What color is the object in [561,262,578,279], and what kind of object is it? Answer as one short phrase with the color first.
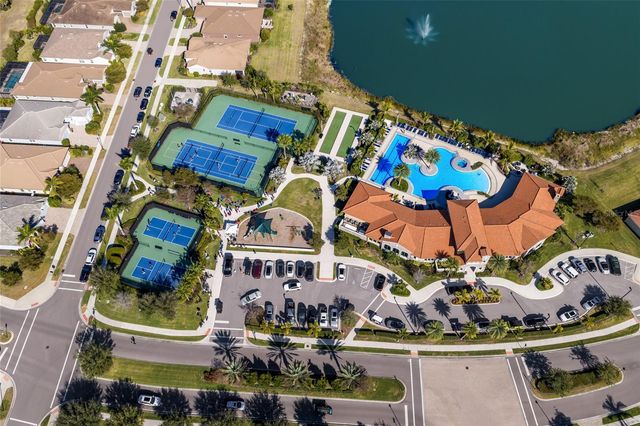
white car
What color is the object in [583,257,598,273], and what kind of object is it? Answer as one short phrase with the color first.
black car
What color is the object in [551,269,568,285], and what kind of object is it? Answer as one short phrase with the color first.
white car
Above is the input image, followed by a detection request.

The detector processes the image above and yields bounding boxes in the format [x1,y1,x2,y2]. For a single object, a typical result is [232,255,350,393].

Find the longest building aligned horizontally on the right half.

[342,172,565,268]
